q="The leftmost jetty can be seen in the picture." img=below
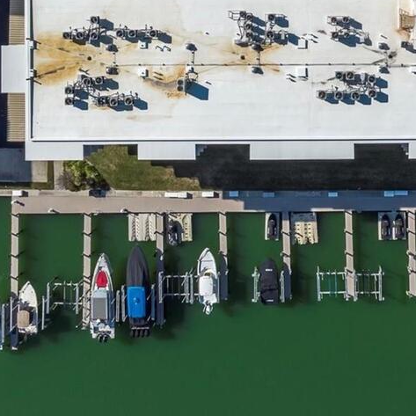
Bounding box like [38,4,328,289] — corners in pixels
[7,214,25,349]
